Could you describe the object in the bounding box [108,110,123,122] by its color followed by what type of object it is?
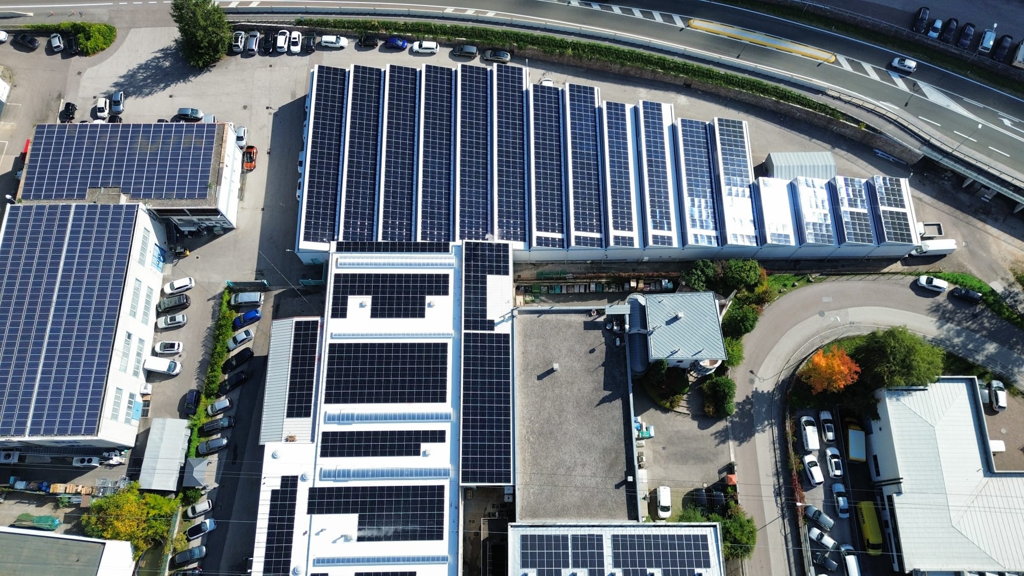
black vehicle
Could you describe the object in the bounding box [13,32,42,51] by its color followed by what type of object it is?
black car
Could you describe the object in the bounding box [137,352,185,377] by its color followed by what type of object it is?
white vehicle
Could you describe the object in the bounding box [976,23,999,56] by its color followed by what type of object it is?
blue vehicle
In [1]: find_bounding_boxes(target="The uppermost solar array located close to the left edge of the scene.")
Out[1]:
[20,123,216,198]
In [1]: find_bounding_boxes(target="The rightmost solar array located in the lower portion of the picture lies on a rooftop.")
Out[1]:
[612,535,710,576]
